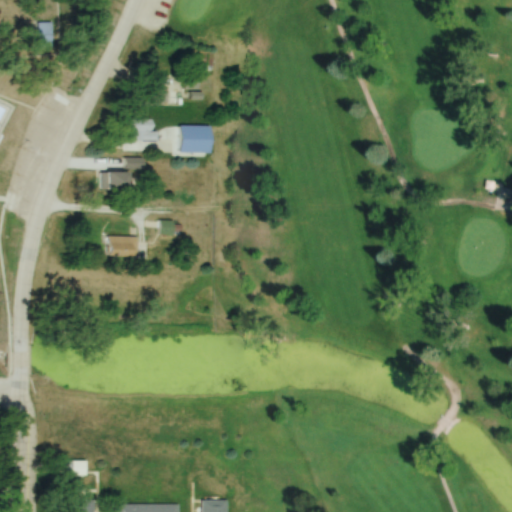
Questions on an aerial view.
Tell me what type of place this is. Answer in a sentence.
The area seen from above is a golf course.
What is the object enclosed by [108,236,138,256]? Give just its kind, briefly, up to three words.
house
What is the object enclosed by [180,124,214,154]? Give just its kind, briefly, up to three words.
barn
